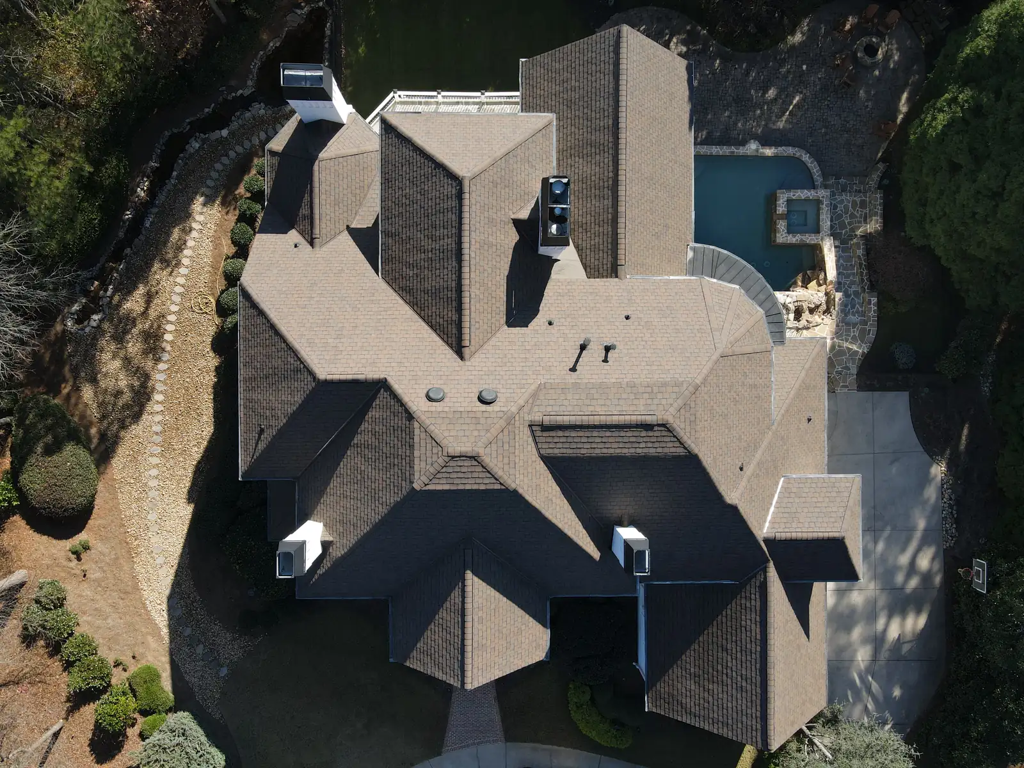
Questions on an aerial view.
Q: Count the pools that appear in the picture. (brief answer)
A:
1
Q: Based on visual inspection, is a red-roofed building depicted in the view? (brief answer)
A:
No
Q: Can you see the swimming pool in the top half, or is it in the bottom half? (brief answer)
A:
top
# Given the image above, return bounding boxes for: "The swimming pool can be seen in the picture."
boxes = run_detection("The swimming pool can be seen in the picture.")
[696,147,831,298]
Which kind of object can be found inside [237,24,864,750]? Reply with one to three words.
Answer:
house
